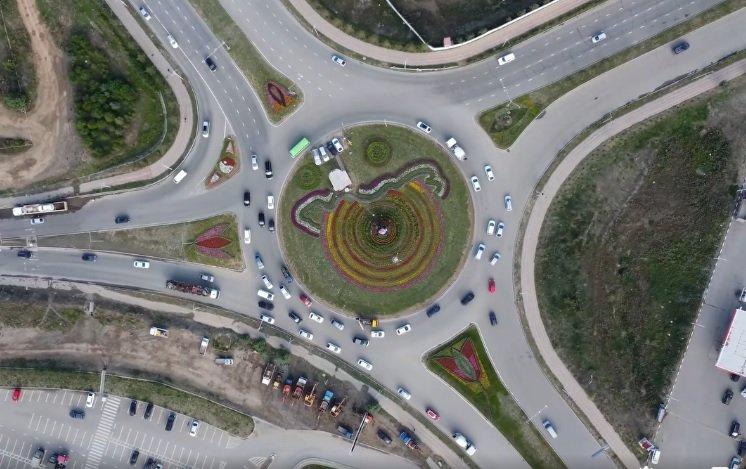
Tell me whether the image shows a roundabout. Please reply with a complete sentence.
Yes, this view includes a roundabout.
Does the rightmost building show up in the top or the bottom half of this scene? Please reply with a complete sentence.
The bottom half of the photo is where the rightmost building is.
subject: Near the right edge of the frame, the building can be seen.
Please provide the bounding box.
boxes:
[708,308,746,377]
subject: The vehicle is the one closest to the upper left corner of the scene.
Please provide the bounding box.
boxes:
[138,6,153,21]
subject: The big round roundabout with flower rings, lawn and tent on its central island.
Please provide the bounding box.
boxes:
[240,84,512,355]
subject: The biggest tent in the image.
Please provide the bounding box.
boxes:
[329,169,352,192]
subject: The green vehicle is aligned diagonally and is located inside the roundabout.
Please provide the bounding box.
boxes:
[288,137,311,158]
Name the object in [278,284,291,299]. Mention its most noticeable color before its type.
white vehicle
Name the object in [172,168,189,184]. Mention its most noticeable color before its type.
white vehicle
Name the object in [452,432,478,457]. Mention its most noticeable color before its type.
white truck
